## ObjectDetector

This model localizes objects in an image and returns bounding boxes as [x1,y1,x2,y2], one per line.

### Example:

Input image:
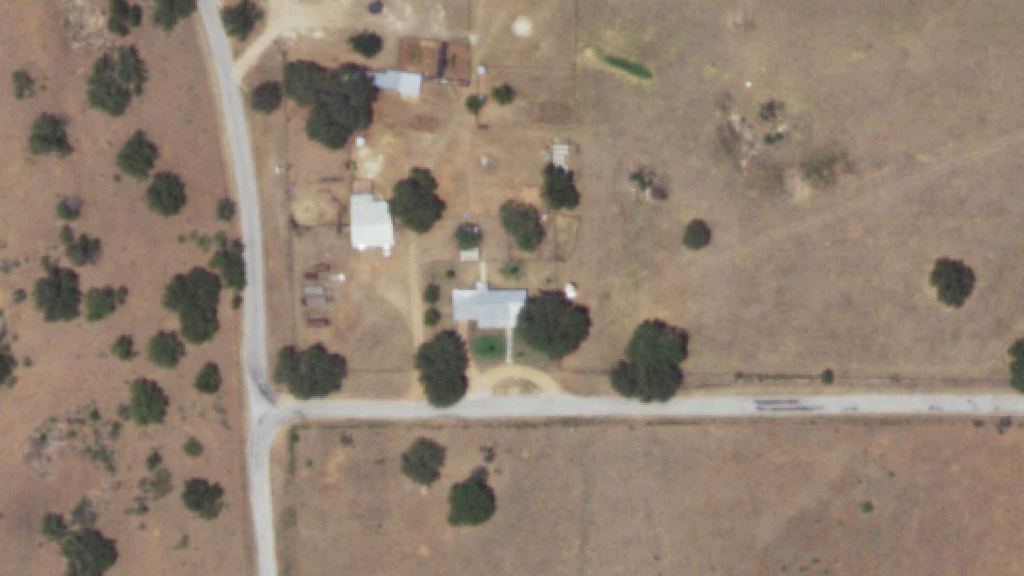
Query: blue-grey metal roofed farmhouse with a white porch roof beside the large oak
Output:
[452,282,526,328]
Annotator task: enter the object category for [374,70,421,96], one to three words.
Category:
shed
